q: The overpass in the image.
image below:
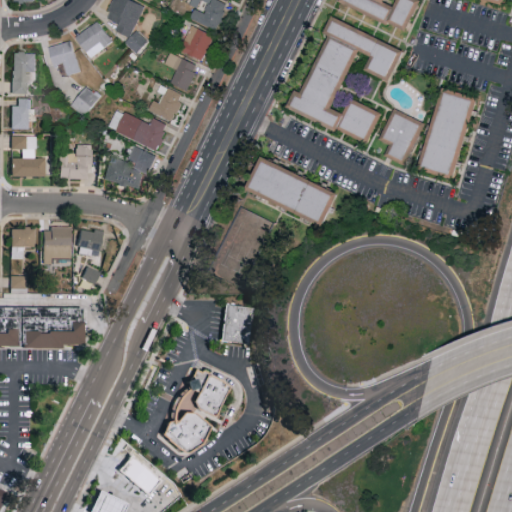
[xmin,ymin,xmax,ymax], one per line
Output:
[418,320,512,420]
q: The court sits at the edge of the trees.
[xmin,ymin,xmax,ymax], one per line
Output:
[214,206,276,284]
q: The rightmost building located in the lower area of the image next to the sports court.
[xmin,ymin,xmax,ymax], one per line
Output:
[222,302,254,346]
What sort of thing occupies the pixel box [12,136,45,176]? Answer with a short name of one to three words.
house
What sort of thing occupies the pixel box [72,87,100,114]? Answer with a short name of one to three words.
building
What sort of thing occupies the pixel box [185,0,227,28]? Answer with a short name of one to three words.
house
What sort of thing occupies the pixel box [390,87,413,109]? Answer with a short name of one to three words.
swimming pool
